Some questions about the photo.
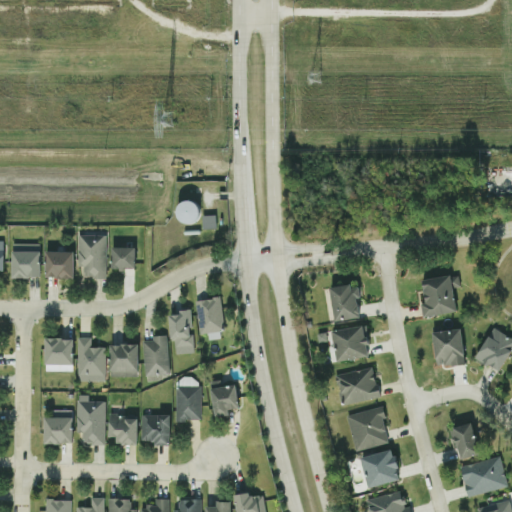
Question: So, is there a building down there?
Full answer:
Yes, this view includes a building.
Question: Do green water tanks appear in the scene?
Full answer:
No, I can't see a single green water tank in this photo.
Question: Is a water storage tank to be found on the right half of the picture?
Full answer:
No, looking on the right half of the picture, there is no water storage tank.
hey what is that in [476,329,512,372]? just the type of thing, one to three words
house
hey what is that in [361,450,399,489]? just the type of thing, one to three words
house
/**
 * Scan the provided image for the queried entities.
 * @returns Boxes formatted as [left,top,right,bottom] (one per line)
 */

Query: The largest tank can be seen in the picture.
[174,198,203,226]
